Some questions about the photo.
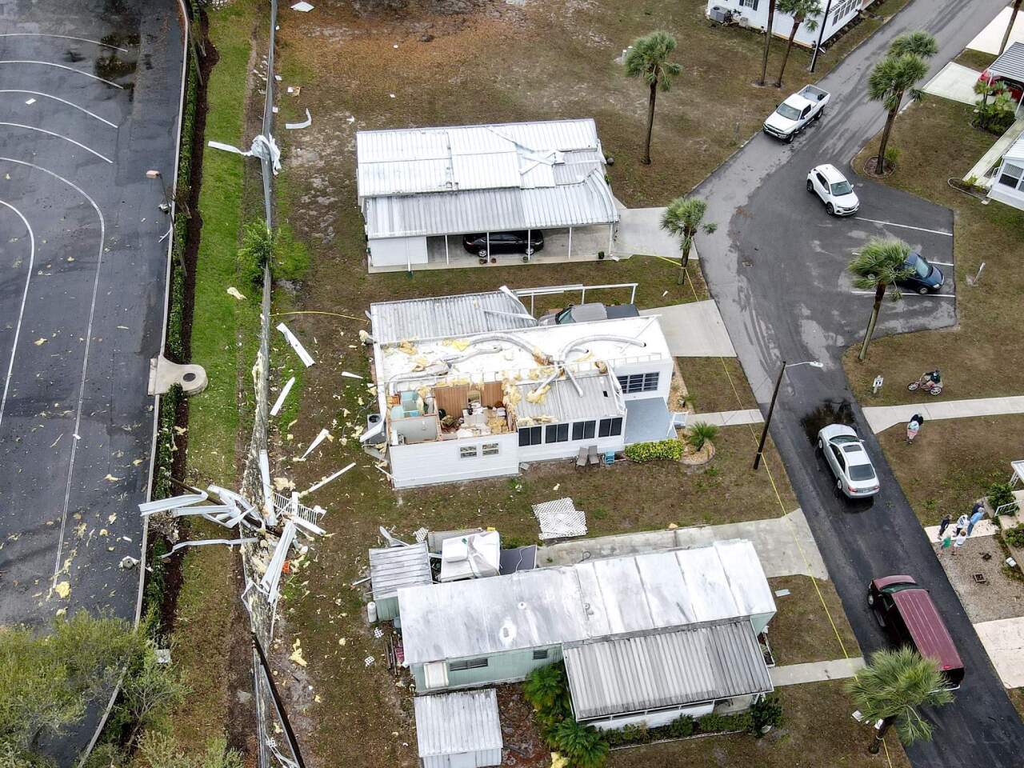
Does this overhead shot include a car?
Yes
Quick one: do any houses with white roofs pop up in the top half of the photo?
Yes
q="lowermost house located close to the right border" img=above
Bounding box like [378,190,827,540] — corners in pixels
[985,137,1024,214]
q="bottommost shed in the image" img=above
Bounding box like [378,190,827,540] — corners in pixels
[414,689,502,768]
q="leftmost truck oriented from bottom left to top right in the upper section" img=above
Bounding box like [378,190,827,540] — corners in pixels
[759,85,836,142]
